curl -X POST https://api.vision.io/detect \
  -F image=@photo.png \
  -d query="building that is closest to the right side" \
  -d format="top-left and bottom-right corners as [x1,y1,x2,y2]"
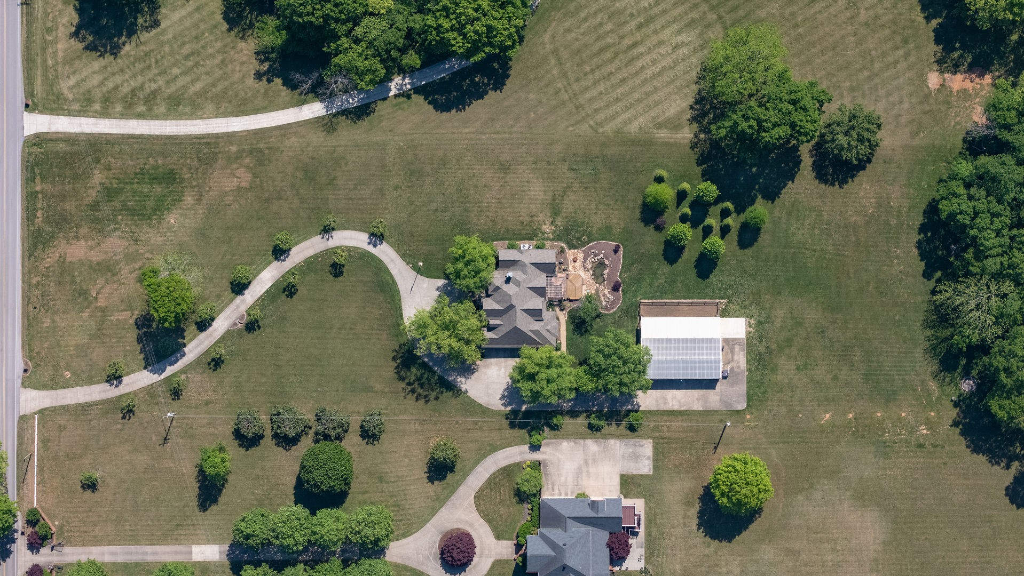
[641,317,722,381]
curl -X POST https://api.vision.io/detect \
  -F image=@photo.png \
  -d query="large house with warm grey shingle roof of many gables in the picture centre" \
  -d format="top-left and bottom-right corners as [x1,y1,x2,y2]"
[481,249,559,349]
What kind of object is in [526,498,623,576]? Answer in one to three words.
house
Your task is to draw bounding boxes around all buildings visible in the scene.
[641,317,722,381]
[481,249,559,349]
[526,498,623,576]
